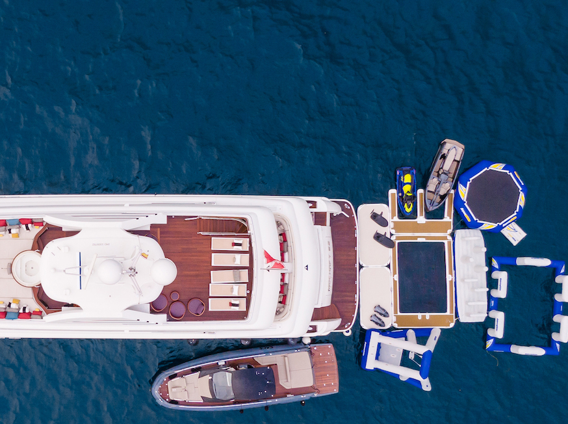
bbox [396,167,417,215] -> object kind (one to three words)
boat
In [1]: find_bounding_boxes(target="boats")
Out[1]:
[0,194,359,339]
[396,167,417,215]
[426,138,465,211]
[149,344,338,413]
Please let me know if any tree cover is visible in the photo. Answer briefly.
No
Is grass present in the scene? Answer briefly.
No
